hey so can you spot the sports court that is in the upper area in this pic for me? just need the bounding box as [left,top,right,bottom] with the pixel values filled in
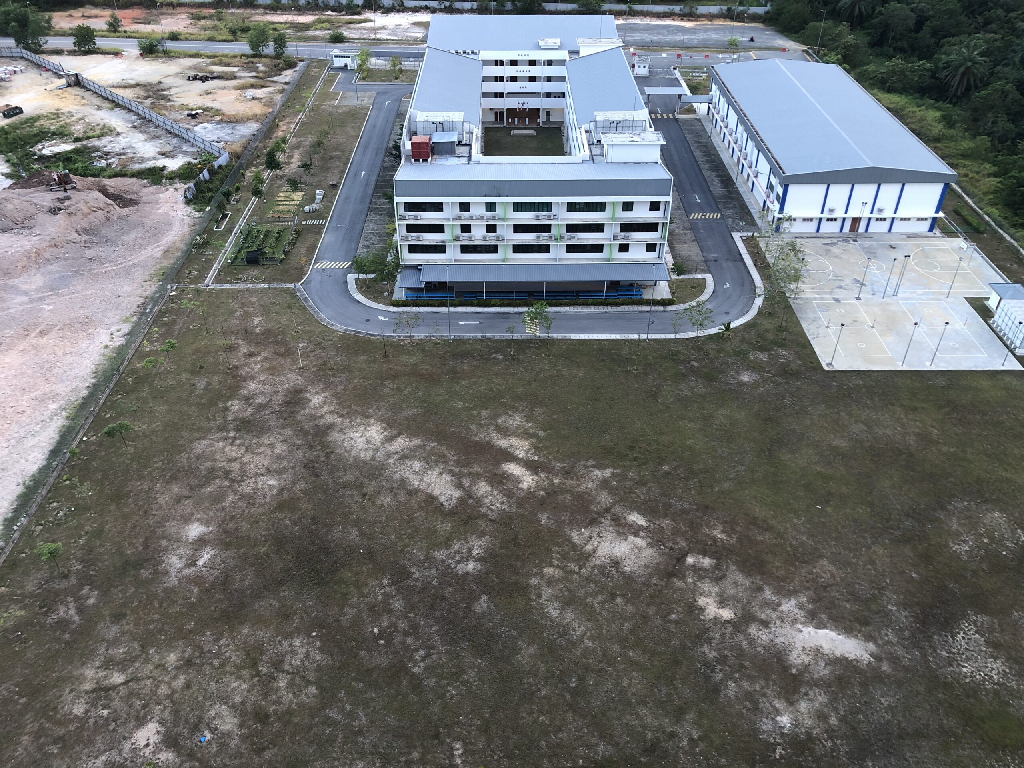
[760,238,1024,370]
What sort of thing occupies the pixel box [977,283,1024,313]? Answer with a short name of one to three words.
building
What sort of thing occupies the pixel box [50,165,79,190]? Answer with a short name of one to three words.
work vehicle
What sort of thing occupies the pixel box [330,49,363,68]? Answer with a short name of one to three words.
shed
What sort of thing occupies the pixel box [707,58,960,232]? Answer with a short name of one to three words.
building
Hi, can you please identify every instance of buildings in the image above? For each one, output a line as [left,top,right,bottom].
[707,58,960,232]
[330,49,363,68]
[392,14,674,299]
[977,283,1024,313]
[60,70,83,86]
